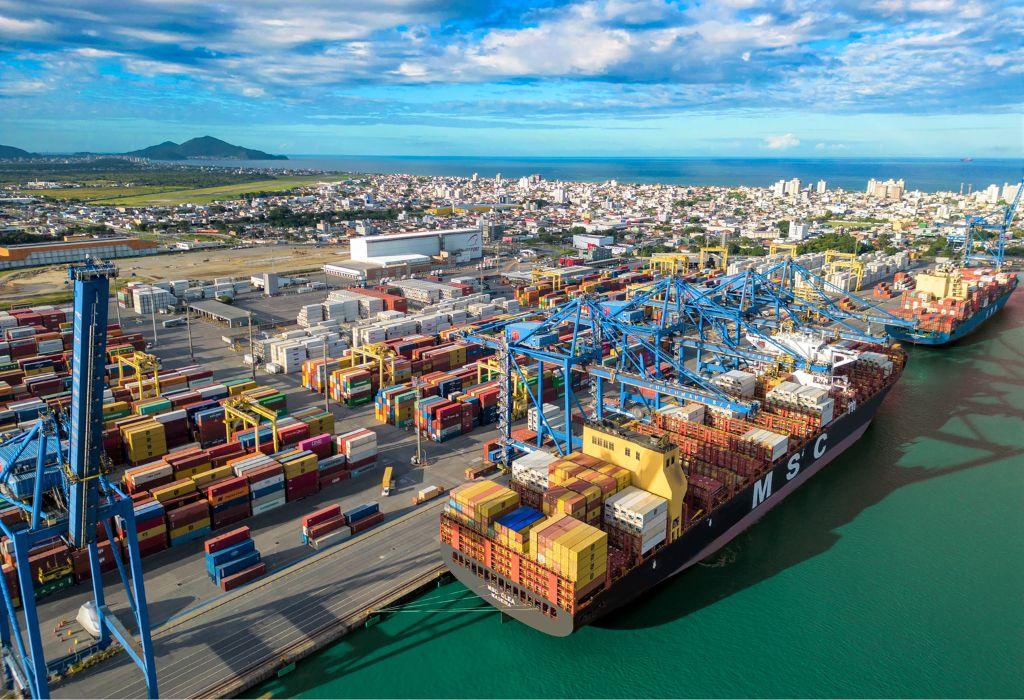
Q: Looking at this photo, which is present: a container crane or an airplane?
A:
container crane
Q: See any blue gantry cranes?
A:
Yes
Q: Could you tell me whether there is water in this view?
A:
Yes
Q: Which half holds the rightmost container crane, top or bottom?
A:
top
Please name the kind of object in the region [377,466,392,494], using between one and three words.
vehicle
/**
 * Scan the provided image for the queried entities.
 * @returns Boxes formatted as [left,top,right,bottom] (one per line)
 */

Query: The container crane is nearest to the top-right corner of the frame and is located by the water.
[936,185,1024,269]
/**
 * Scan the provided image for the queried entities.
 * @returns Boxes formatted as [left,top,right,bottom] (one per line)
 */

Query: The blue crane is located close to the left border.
[0,253,178,700]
